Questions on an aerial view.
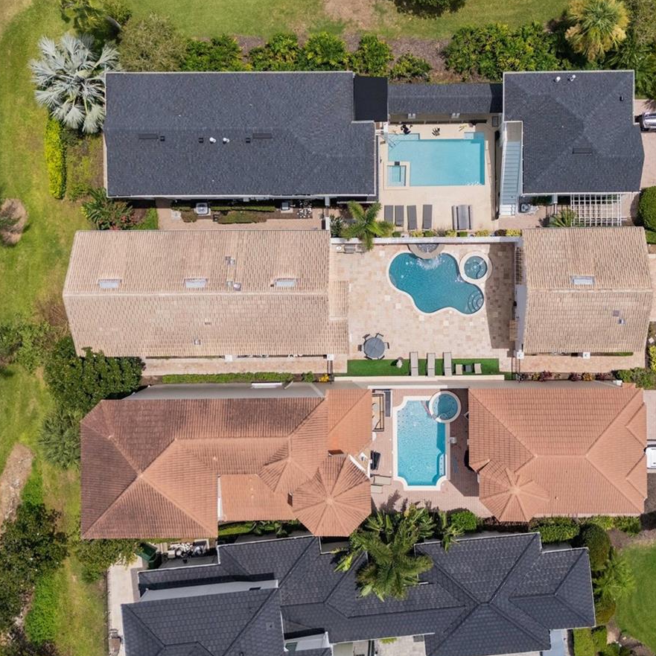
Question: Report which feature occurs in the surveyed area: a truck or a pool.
pool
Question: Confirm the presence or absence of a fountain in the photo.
Yes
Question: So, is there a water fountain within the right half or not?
Yes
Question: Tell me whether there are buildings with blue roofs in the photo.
No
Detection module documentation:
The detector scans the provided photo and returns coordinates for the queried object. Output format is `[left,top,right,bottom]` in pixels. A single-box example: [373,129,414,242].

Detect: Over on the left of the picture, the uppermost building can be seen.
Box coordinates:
[102,71,388,211]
